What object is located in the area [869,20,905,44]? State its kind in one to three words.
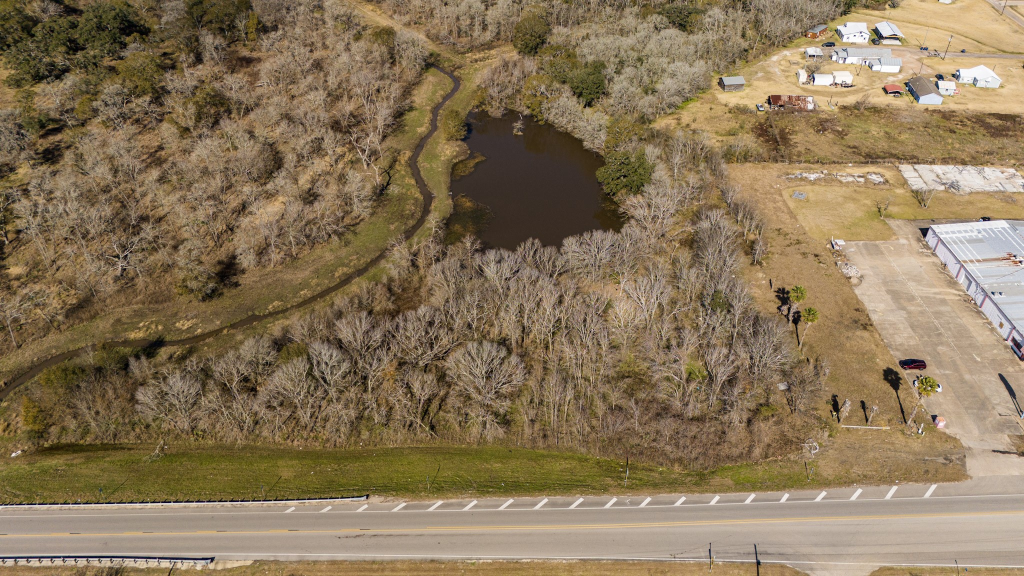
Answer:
building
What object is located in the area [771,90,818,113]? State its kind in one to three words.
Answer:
barn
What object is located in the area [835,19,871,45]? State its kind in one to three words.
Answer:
house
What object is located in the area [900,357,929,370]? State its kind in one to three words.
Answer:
vehicle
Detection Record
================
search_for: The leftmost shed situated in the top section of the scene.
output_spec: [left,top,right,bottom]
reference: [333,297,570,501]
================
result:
[717,75,747,92]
